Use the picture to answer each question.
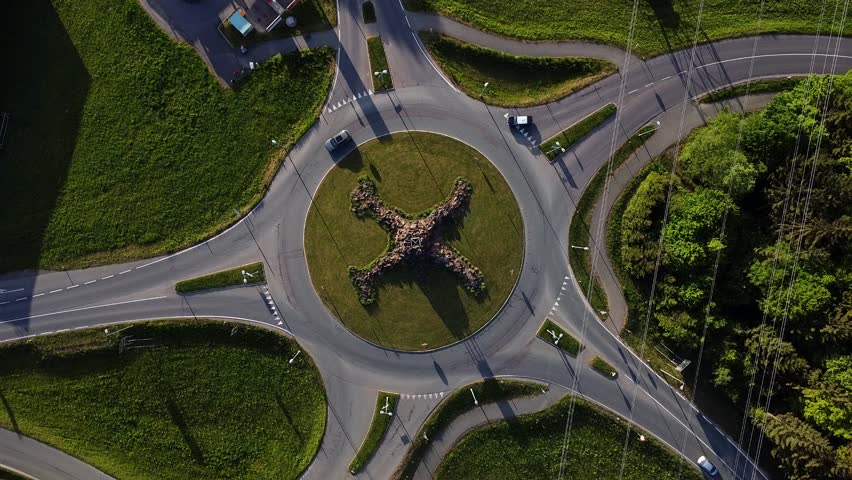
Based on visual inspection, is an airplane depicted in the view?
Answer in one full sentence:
No, no airplane is visible in the view.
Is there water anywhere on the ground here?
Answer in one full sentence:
No, there is no water in the image.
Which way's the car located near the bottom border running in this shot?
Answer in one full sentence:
The car located near the bottom border is laid out on a diagonal.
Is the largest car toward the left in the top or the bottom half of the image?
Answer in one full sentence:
The largest car toward the left is in the top half of the image.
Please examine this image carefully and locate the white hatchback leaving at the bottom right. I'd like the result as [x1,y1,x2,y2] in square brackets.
[695,453,719,479]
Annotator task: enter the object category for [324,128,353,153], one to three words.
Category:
car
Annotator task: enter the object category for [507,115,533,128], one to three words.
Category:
vehicle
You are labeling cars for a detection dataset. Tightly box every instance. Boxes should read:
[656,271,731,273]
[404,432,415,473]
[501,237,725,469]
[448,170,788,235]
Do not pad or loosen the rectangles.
[507,115,533,128]
[324,128,353,153]
[695,453,719,479]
